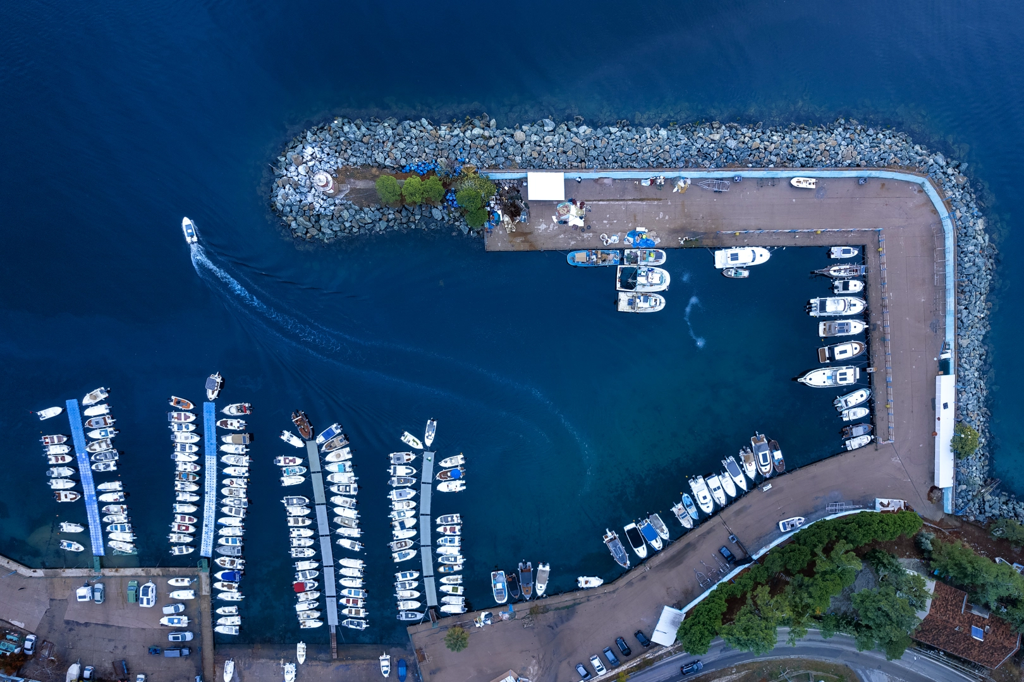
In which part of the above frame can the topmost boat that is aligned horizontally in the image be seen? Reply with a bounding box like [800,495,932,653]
[790,177,822,189]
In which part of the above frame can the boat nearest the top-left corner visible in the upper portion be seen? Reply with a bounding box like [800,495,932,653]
[183,217,198,249]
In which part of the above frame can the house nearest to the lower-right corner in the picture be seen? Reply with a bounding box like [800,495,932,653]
[900,570,1019,670]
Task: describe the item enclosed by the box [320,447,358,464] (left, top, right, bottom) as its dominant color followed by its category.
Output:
white boat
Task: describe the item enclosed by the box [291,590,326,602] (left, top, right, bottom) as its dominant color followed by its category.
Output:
white boat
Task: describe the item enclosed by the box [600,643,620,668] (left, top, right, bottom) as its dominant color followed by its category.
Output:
blue car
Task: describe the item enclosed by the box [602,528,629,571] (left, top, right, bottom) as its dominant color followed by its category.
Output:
blue boat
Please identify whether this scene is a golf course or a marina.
marina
